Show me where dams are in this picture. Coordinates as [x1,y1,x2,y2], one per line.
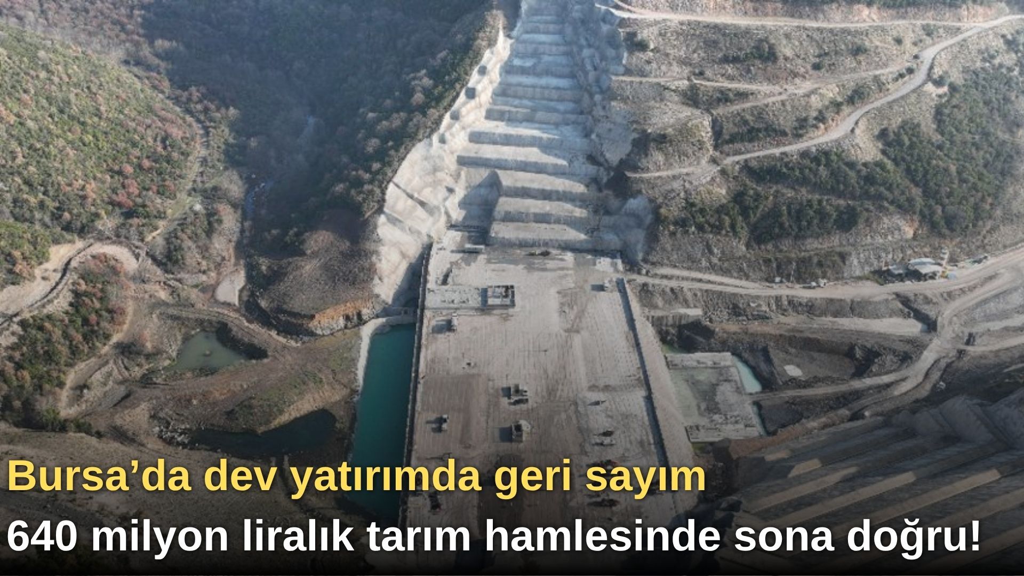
[397,247,712,576]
